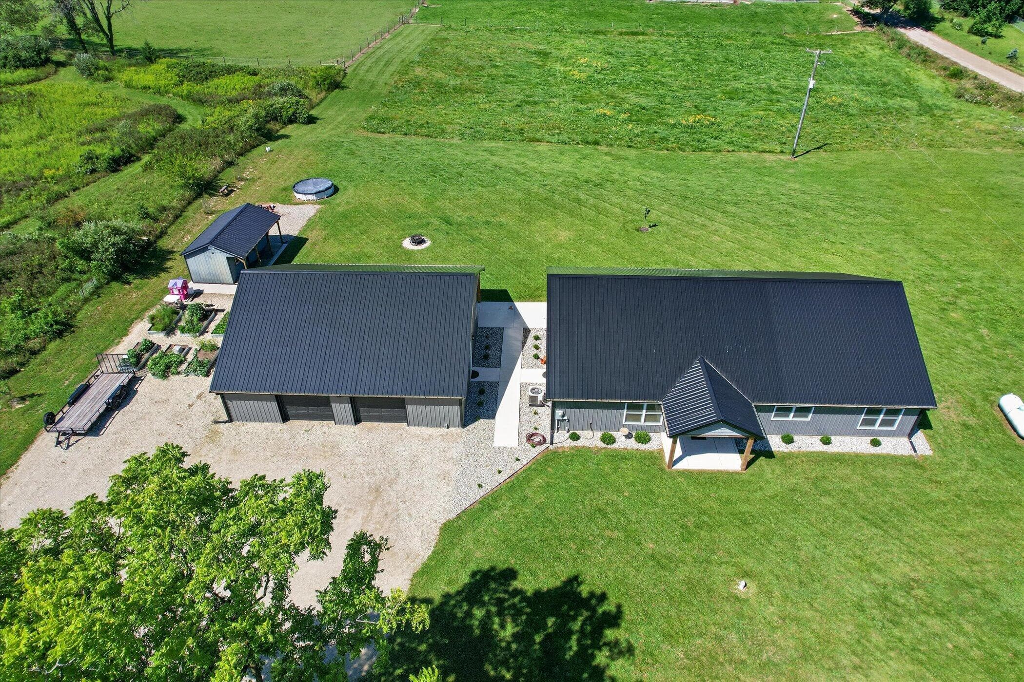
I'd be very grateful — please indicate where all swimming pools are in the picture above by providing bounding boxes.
[291,170,338,198]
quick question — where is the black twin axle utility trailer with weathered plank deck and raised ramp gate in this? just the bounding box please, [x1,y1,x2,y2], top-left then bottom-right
[40,355,136,455]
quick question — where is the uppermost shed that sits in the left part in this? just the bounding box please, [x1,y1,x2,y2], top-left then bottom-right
[180,203,283,283]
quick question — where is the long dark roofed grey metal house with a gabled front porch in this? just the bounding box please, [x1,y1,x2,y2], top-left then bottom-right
[546,268,939,472]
